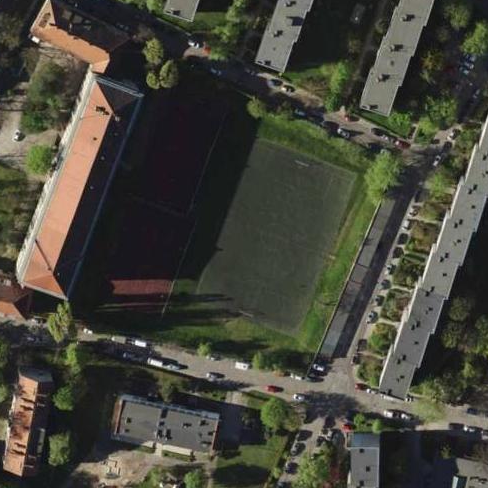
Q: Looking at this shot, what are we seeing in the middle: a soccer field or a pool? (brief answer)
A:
soccer field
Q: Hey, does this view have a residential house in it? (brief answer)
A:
Yes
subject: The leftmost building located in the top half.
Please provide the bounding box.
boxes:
[21,70,145,300]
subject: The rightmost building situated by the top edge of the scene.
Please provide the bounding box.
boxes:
[360,0,432,116]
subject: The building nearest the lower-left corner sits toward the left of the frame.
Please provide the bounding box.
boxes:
[4,367,56,476]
